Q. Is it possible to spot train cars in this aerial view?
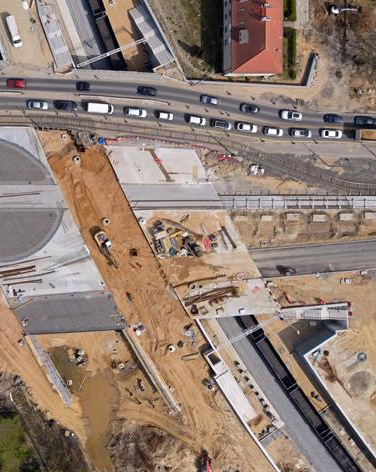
Yes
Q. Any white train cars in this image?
No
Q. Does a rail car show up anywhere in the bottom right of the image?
Yes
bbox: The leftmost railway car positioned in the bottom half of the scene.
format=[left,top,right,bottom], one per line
[234,316,260,338]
